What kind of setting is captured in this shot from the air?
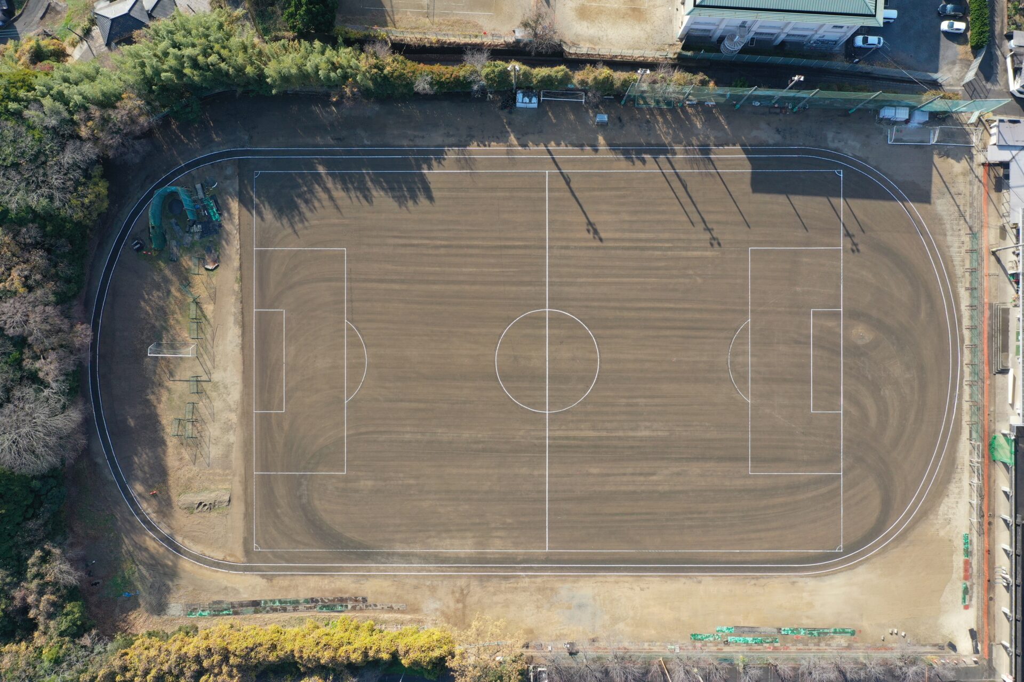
sports ground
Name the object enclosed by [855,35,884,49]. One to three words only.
car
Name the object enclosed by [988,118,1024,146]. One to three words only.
building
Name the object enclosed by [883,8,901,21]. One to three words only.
vehicle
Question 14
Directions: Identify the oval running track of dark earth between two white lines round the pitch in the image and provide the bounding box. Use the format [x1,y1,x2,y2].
[89,147,960,575]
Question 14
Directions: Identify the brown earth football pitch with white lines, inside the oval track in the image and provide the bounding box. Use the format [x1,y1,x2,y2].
[240,158,950,564]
